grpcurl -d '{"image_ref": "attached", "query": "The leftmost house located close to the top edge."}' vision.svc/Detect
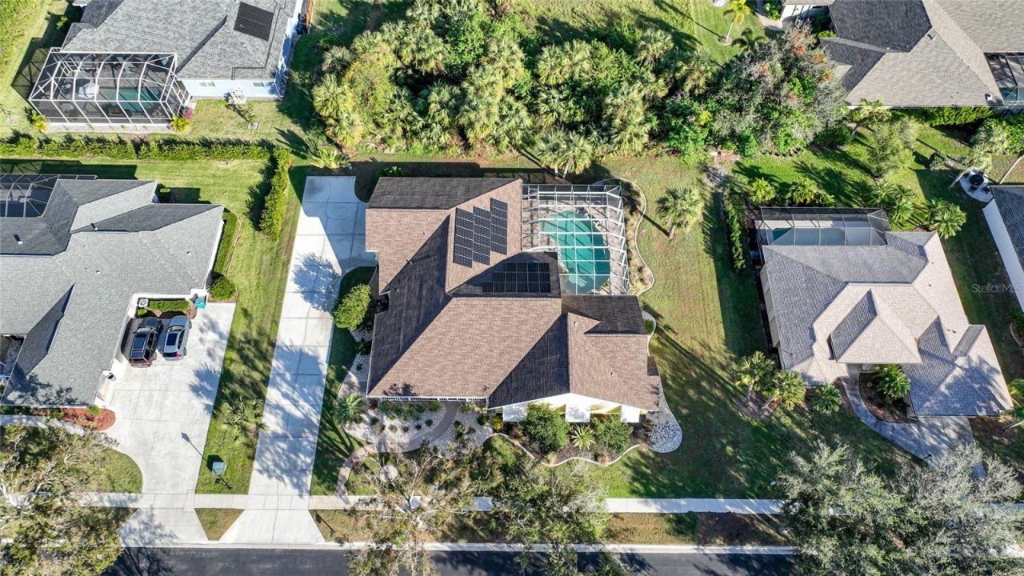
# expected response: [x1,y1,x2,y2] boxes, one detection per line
[61,0,303,97]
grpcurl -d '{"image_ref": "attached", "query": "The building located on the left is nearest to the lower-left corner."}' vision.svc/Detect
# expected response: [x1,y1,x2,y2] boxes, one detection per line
[0,179,229,413]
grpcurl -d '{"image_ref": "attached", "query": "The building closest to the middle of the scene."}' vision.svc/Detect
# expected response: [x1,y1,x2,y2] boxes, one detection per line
[365,177,661,414]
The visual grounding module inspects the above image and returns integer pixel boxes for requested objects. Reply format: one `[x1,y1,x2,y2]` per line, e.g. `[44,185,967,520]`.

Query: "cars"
[157,315,195,365]
[128,319,165,371]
